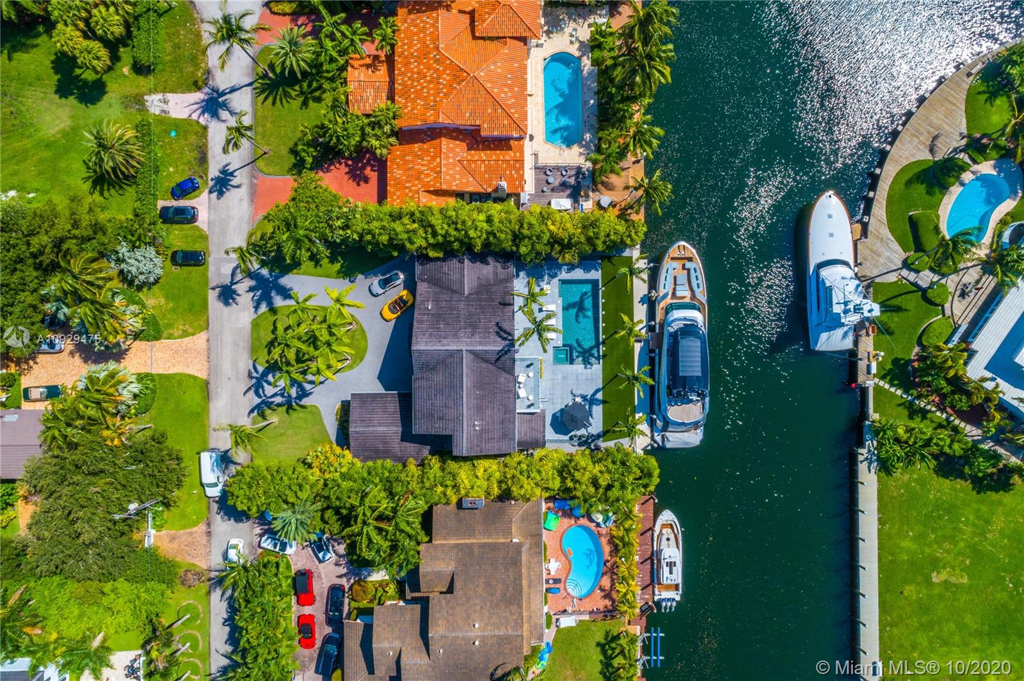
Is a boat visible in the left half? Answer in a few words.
No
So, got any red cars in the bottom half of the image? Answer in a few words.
Yes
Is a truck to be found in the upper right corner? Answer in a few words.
No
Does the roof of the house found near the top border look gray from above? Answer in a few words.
No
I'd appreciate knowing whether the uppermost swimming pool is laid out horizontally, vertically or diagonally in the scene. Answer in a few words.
vertically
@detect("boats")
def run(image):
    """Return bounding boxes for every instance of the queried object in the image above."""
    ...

[654,506,682,609]
[799,190,894,359]
[653,241,710,448]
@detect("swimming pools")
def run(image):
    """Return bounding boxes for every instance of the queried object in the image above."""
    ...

[542,48,585,155]
[946,172,1011,245]
[553,347,570,365]
[557,278,602,366]
[559,522,606,609]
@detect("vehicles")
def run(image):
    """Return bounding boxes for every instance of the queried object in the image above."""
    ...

[172,249,206,266]
[325,584,346,627]
[367,269,407,297]
[224,536,244,567]
[22,384,64,402]
[294,568,314,605]
[161,205,201,223]
[297,614,317,648]
[309,536,336,565]
[378,291,415,321]
[29,336,68,354]
[315,629,342,677]
[169,176,203,201]
[198,450,224,498]
[259,534,296,557]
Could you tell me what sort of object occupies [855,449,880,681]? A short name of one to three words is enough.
pier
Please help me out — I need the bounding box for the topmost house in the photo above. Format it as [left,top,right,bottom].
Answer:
[348,0,541,212]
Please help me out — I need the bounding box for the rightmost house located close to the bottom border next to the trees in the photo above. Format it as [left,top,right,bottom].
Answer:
[344,491,543,681]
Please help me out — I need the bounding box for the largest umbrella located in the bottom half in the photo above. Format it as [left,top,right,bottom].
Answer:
[563,403,591,430]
